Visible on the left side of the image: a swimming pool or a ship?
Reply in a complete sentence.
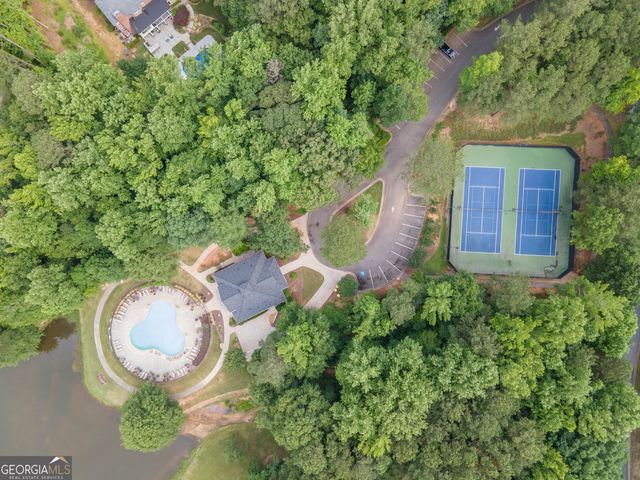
Visible on the left side of the image is a swimming pool.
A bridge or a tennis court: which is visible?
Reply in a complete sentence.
Visible in the photo is a tennis court.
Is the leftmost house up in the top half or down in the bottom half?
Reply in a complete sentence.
The leftmost house is in the top half of the image.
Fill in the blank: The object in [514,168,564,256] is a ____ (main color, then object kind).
blue tennis court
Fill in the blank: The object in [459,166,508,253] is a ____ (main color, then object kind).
blue tennis court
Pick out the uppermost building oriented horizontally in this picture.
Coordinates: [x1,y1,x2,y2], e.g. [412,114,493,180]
[95,0,171,36]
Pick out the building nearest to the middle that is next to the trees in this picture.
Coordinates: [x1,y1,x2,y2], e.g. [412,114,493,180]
[214,251,288,324]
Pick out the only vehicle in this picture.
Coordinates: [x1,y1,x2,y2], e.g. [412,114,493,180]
[441,42,456,58]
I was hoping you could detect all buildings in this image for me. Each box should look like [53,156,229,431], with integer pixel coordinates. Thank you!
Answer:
[95,0,171,36]
[214,251,288,324]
